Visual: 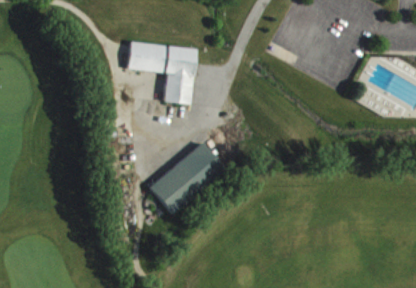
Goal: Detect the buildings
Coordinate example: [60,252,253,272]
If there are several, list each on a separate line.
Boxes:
[164,45,198,106]
[152,143,228,214]
[130,40,168,73]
